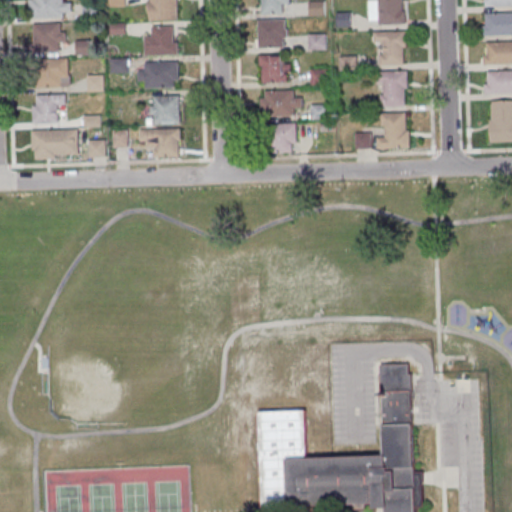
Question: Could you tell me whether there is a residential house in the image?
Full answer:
Yes, the picture does show a residential house.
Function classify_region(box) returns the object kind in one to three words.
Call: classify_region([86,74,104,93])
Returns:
building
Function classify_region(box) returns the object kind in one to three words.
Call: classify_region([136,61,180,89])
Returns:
house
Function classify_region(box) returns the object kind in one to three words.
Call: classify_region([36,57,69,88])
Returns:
house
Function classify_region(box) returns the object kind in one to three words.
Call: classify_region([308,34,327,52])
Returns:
building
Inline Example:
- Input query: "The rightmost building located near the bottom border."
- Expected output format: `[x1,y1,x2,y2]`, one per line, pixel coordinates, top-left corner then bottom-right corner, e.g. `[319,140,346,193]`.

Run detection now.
[284,363,423,512]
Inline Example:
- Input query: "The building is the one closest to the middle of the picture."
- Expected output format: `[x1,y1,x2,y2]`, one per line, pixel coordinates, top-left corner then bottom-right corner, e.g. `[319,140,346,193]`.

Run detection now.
[272,123,296,154]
